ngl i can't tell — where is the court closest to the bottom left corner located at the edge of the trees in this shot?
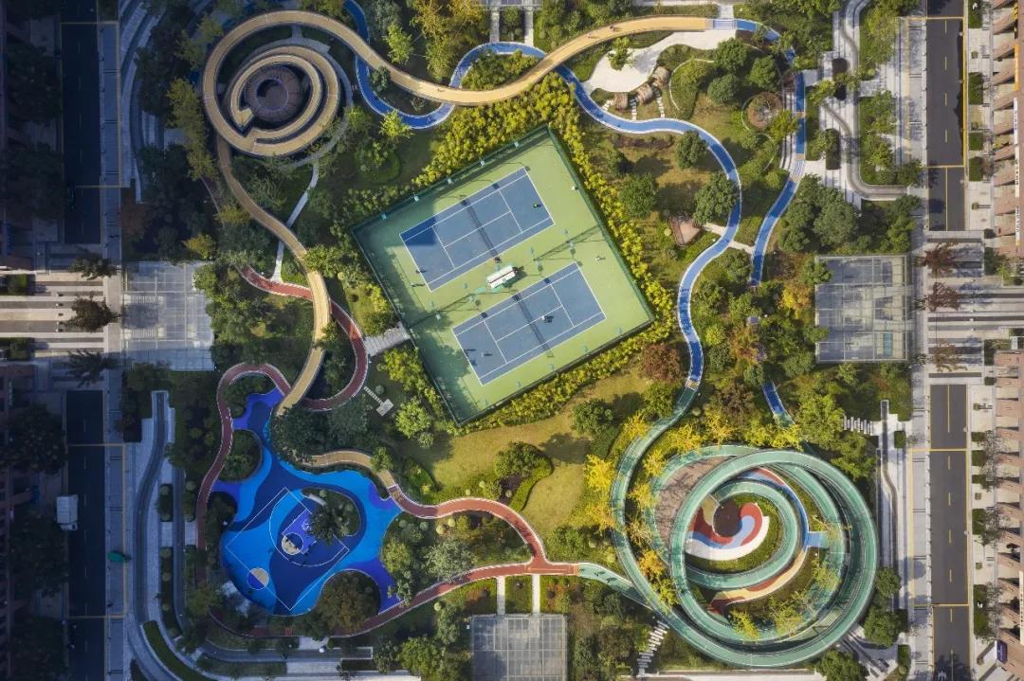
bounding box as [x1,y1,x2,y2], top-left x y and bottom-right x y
[207,389,404,616]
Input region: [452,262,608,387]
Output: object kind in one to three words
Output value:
tennis court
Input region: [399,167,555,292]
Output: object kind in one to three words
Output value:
tennis court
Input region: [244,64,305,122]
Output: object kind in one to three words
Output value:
building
